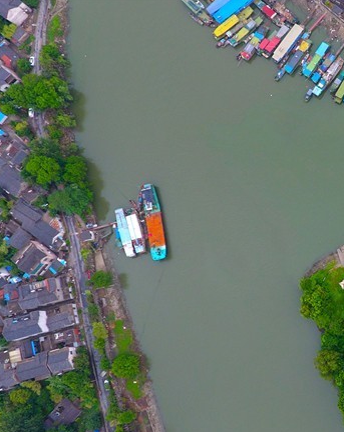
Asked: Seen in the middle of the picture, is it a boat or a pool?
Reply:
boat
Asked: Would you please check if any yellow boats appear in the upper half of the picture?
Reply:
Yes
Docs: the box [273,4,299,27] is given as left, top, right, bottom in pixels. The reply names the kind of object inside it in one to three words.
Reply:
boat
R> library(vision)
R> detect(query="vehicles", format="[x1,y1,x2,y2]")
[30,57,36,67]
[104,377,110,387]
[29,109,35,119]
[99,369,108,378]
